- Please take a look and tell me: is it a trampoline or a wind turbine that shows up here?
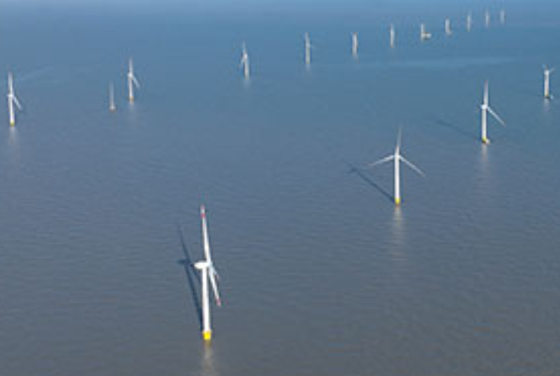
wind turbine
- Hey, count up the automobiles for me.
0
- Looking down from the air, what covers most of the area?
water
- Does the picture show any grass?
No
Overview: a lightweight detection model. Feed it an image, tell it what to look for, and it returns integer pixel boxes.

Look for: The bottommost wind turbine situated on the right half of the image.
[371,123,425,203]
